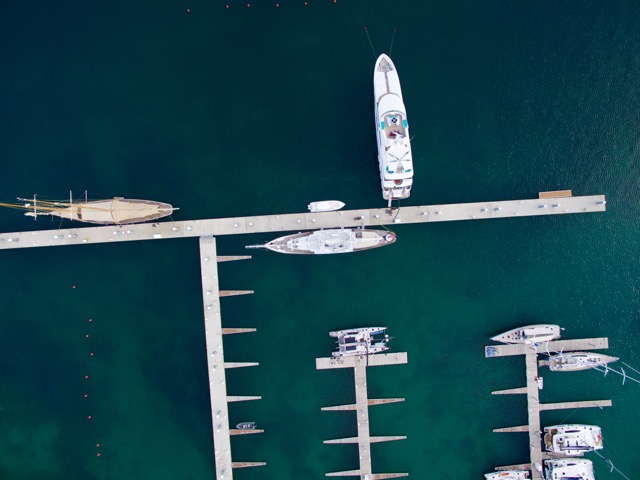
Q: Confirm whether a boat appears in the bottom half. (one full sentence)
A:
Yes, in the bottom half there is a boat.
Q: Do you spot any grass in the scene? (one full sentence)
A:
No, the scene doesn't show any grass.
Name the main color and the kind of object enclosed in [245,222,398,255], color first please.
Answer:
white boat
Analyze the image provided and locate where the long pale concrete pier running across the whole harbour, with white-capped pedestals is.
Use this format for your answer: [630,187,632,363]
[0,195,606,250]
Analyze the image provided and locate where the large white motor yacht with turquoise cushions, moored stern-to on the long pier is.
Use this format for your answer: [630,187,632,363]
[365,28,415,210]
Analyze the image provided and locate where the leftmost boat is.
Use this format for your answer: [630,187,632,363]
[0,189,178,229]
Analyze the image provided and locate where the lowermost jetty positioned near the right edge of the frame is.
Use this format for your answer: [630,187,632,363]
[485,338,611,480]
